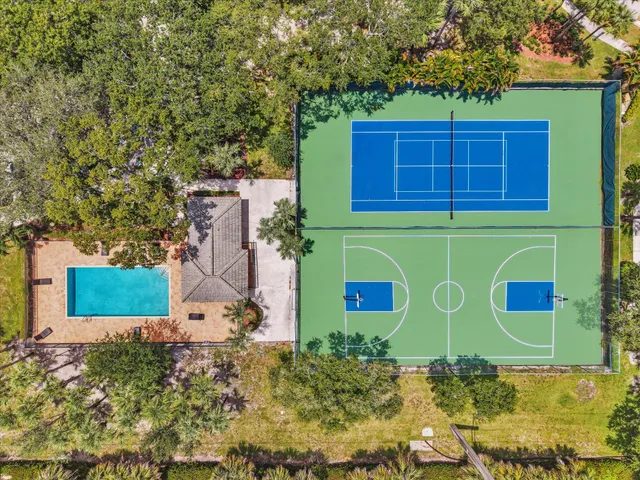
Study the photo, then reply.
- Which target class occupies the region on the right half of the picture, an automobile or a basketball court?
basketball court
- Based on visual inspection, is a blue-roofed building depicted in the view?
No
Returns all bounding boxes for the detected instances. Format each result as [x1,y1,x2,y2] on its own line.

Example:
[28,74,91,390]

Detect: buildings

[181,196,249,302]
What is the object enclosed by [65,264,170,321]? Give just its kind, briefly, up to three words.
swimming pool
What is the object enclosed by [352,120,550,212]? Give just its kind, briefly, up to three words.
tennis court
